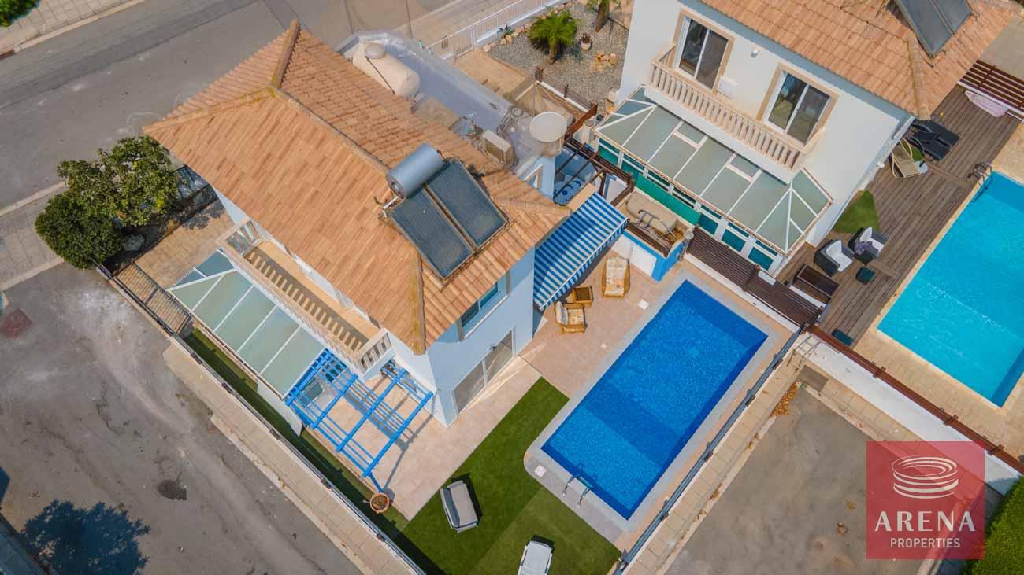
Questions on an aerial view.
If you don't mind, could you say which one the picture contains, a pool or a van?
pool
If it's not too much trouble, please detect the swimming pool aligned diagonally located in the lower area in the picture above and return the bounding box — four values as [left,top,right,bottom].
[524,271,783,547]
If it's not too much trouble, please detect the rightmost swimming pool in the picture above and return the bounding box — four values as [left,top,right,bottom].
[873,166,1024,422]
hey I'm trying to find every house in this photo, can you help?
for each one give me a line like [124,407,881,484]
[591,0,1018,286]
[143,17,599,439]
